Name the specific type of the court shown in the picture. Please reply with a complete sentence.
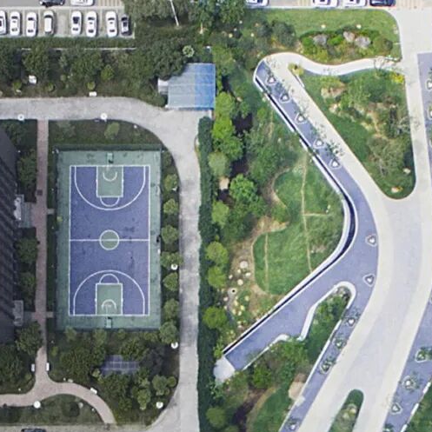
In the photo, the court shows up as a basketball court.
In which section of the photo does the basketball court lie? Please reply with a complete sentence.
The basketball court sits in the left section of the image.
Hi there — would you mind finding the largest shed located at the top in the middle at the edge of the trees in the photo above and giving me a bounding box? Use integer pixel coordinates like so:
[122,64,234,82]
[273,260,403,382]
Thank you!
[168,64,215,118]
